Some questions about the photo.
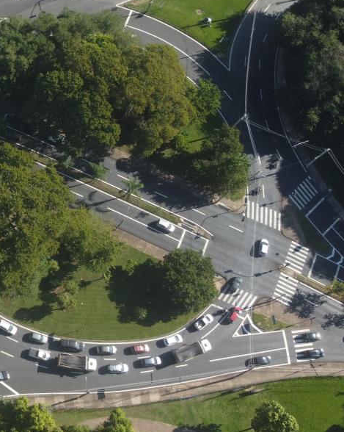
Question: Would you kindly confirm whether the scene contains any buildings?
No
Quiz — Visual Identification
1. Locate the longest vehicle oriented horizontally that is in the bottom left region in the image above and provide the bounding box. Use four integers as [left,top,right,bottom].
[55,352,97,369]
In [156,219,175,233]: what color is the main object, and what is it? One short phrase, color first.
white vehicle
